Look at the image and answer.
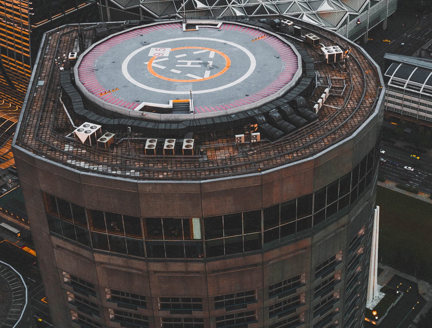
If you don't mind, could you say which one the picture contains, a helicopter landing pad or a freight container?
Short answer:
helicopter landing pad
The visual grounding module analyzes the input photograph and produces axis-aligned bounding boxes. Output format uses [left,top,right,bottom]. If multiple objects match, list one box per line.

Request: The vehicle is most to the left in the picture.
[0,219,19,235]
